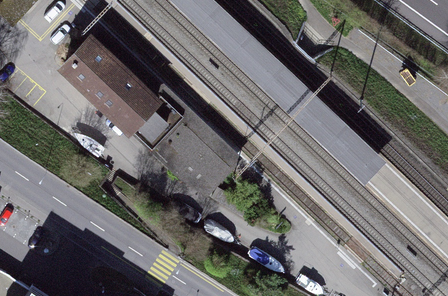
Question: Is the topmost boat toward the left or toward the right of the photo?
left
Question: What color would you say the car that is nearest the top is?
white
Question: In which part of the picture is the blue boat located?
bottom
